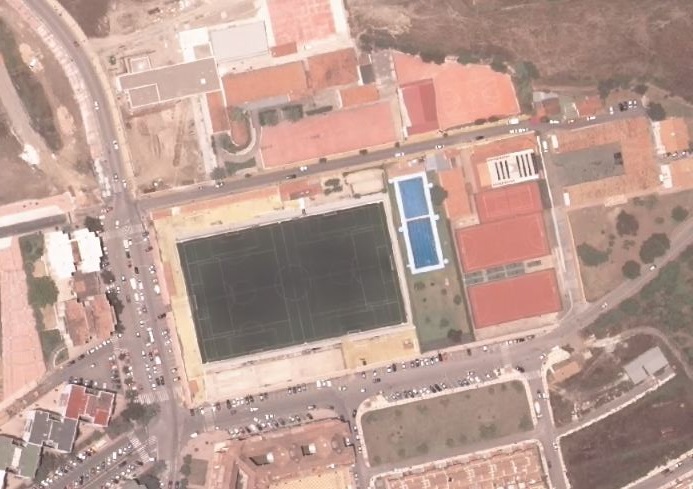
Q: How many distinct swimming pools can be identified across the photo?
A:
one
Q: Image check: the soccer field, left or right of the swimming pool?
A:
left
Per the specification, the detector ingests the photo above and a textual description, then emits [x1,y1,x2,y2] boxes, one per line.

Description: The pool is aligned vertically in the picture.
[393,172,445,274]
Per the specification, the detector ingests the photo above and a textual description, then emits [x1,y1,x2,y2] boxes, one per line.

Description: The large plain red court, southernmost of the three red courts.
[468,269,562,327]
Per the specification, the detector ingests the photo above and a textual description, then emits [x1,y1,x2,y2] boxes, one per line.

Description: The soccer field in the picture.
[177,203,408,363]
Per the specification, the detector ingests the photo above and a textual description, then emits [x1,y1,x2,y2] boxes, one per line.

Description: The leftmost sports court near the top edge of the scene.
[268,0,337,46]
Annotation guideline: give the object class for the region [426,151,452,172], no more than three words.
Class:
building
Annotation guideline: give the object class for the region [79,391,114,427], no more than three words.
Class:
building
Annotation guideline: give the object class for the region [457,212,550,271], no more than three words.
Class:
sports court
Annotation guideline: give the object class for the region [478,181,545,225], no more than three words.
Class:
tennis court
